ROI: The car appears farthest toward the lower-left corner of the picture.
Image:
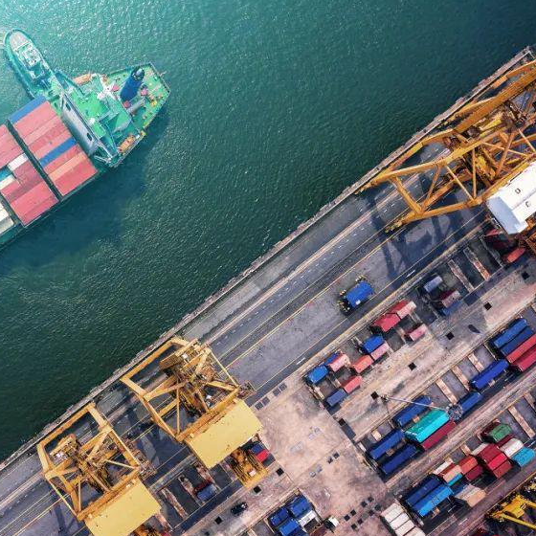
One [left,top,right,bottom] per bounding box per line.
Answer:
[230,501,247,516]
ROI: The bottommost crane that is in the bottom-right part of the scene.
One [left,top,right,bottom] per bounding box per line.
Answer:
[489,483,536,526]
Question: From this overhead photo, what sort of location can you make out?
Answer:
port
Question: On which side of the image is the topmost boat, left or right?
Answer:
left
